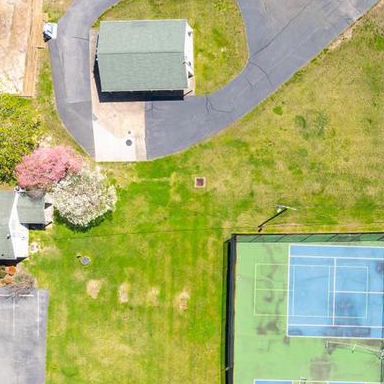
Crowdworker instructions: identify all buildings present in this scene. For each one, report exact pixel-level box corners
[97,20,198,95]
[0,188,56,262]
